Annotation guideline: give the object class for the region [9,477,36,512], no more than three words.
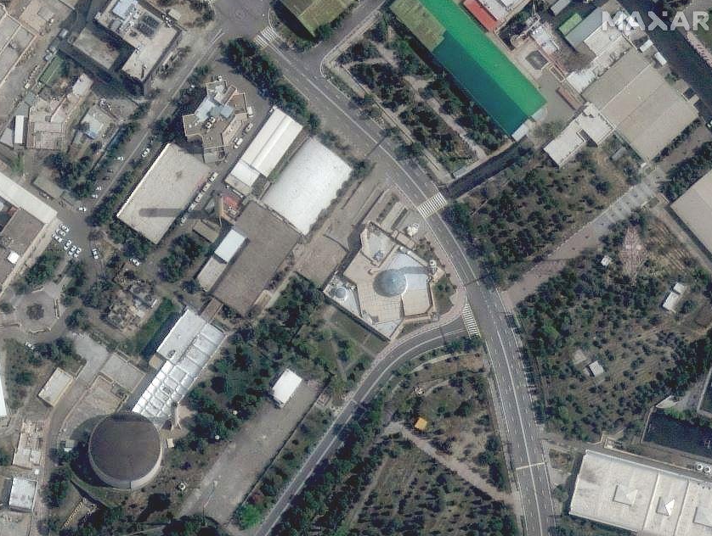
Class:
building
